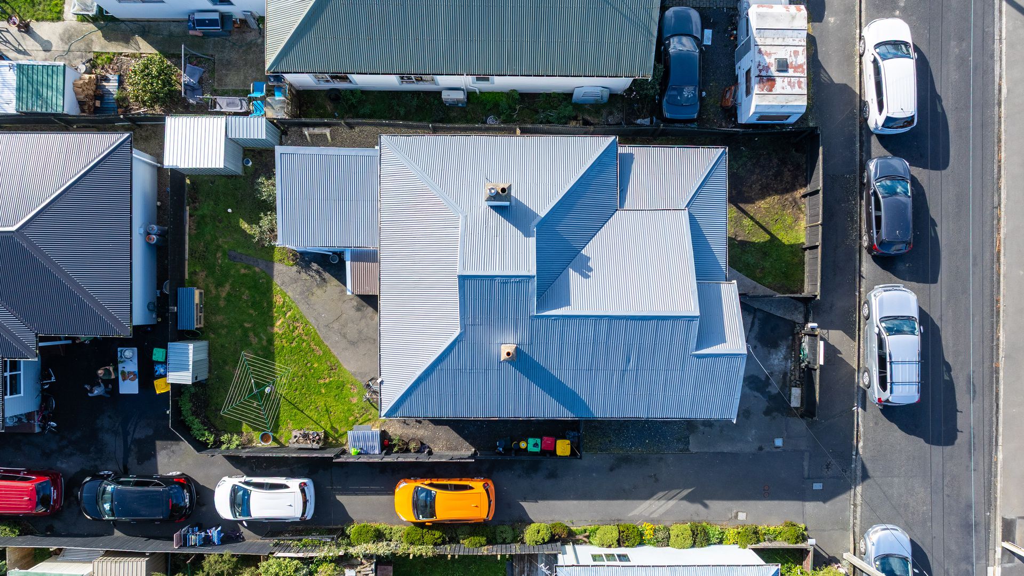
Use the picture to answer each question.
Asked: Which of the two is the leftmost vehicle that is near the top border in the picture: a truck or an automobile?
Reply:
automobile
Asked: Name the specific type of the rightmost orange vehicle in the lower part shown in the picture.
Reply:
automobile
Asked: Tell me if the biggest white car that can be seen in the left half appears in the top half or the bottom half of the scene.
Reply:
bottom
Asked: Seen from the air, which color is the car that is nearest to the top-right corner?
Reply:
white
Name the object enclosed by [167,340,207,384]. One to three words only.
shed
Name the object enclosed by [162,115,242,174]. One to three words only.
shed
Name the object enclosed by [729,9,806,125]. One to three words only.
camper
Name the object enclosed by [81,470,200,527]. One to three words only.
car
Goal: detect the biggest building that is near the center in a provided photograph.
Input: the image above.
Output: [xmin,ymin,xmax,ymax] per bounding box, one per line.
[279,133,746,420]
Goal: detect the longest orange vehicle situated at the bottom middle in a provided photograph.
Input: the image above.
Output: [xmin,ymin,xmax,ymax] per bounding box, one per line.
[395,474,495,529]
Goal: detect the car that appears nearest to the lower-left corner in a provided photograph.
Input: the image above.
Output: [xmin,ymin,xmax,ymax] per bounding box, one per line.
[0,465,70,517]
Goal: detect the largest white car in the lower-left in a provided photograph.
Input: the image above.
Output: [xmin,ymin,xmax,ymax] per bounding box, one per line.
[215,473,317,528]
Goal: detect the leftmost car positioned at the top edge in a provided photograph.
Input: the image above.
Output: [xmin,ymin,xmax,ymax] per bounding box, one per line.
[656,7,711,123]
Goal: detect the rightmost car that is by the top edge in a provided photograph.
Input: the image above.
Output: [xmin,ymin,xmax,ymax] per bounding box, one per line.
[855,19,920,137]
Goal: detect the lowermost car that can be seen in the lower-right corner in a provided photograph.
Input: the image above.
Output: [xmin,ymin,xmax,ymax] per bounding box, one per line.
[854,521,914,576]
